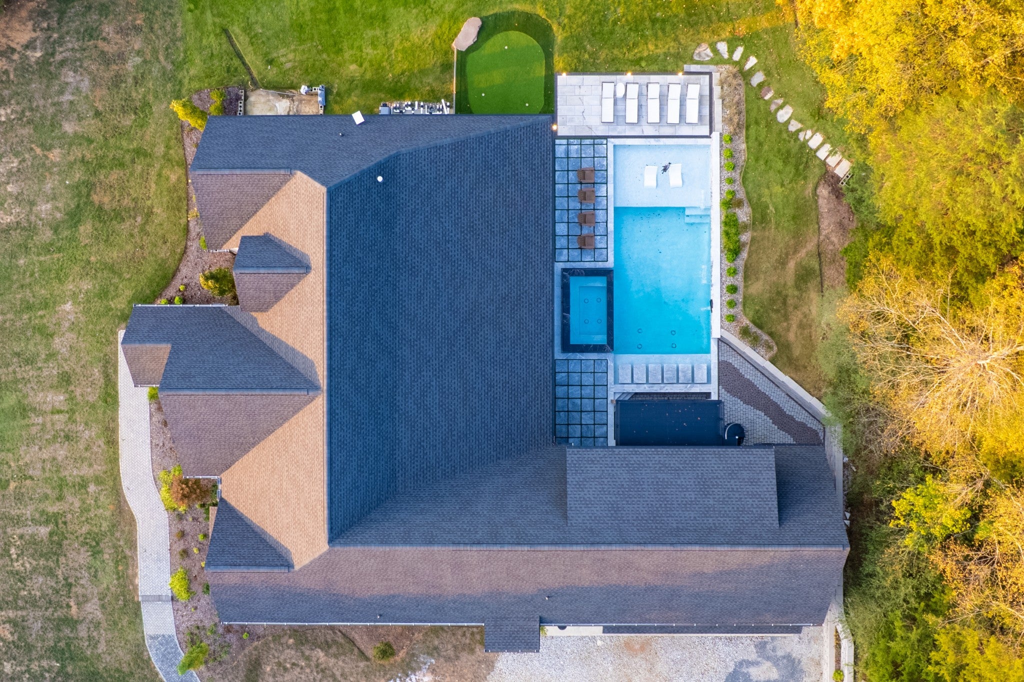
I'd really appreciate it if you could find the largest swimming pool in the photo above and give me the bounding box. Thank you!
[608,132,720,444]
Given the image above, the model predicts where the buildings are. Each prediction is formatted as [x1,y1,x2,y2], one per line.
[121,113,849,656]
